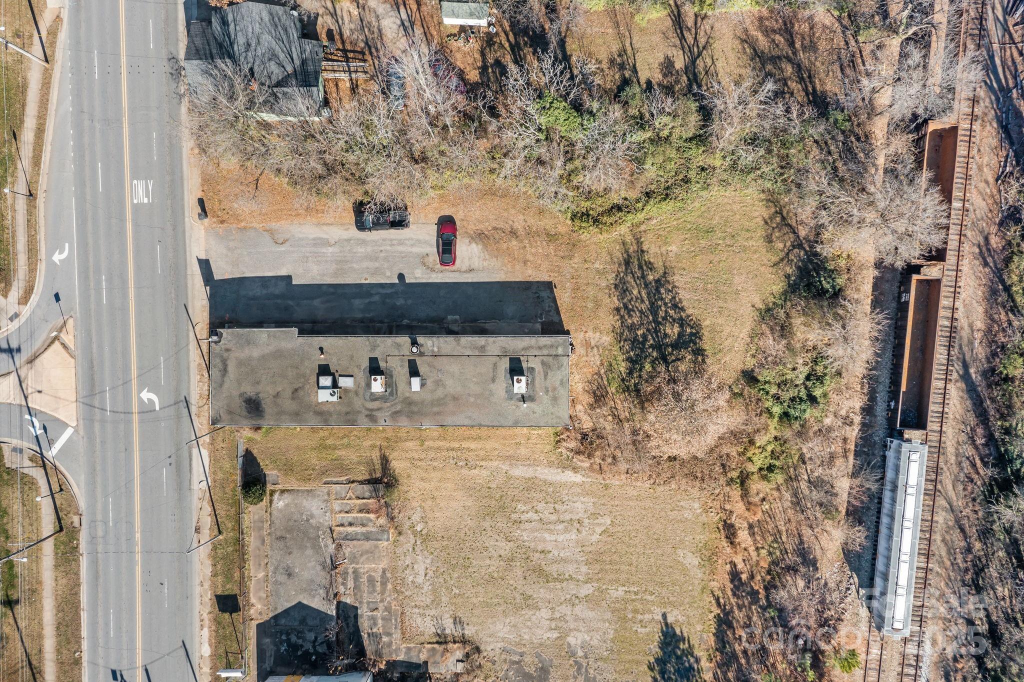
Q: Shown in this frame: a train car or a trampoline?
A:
train car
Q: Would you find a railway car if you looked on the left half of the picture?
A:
No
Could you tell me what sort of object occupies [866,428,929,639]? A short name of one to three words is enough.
rail car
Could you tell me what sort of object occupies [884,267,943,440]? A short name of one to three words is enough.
rail car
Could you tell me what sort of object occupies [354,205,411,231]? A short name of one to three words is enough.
truck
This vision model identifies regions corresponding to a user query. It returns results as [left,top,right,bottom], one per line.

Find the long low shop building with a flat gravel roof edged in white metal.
[211,328,573,431]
